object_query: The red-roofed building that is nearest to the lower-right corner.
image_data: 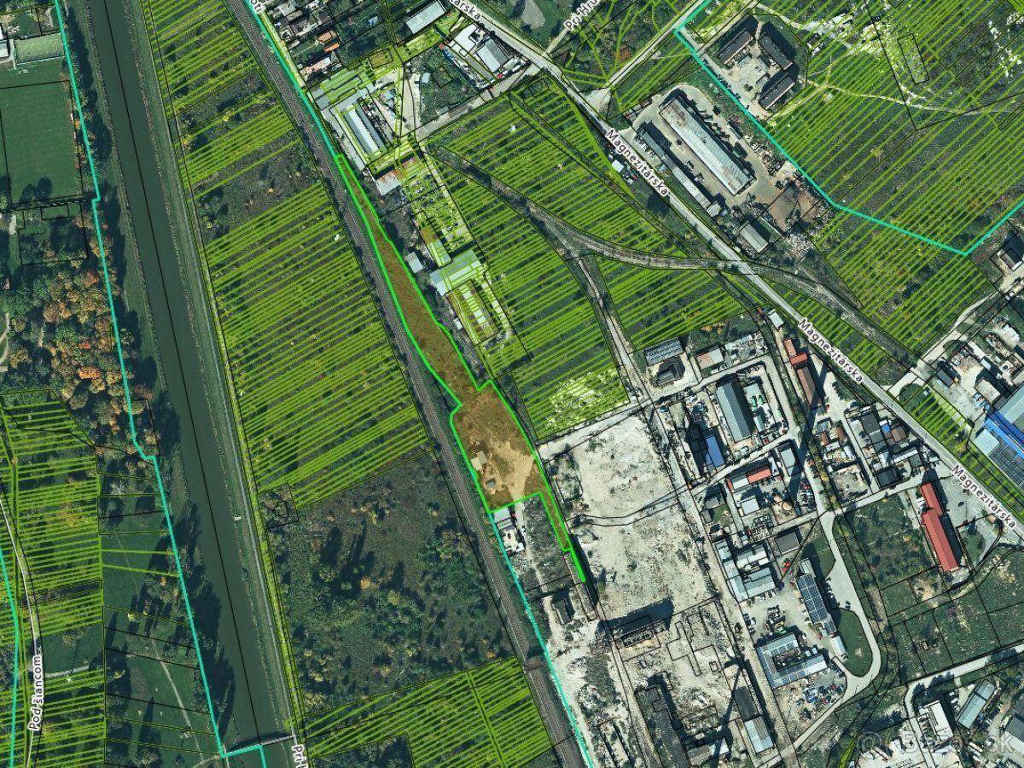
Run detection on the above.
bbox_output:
[923,512,960,573]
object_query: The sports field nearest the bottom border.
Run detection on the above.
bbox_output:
[0,81,82,207]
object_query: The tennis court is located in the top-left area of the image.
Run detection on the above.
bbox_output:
[16,33,64,64]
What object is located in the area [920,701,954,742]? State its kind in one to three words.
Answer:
building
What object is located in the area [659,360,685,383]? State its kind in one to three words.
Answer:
house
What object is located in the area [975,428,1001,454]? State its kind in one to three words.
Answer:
building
